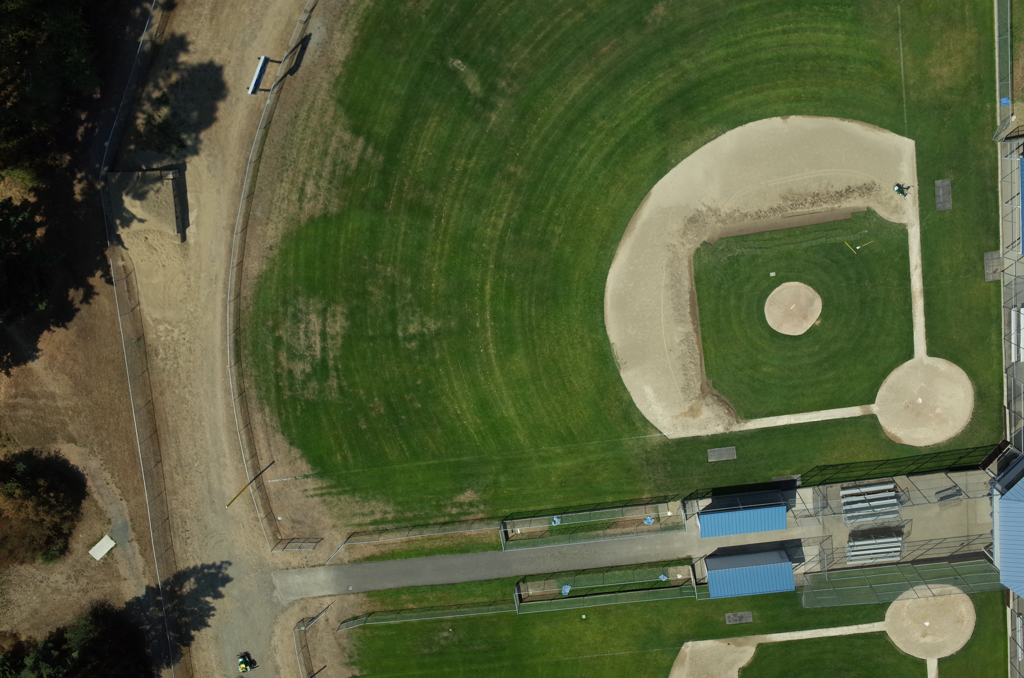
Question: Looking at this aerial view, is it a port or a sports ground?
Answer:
sports ground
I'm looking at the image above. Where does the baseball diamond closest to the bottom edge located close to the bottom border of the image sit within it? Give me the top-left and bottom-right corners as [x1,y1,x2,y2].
[300,567,1008,678]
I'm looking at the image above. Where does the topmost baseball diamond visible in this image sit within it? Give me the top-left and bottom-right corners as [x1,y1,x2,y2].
[237,0,1004,545]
